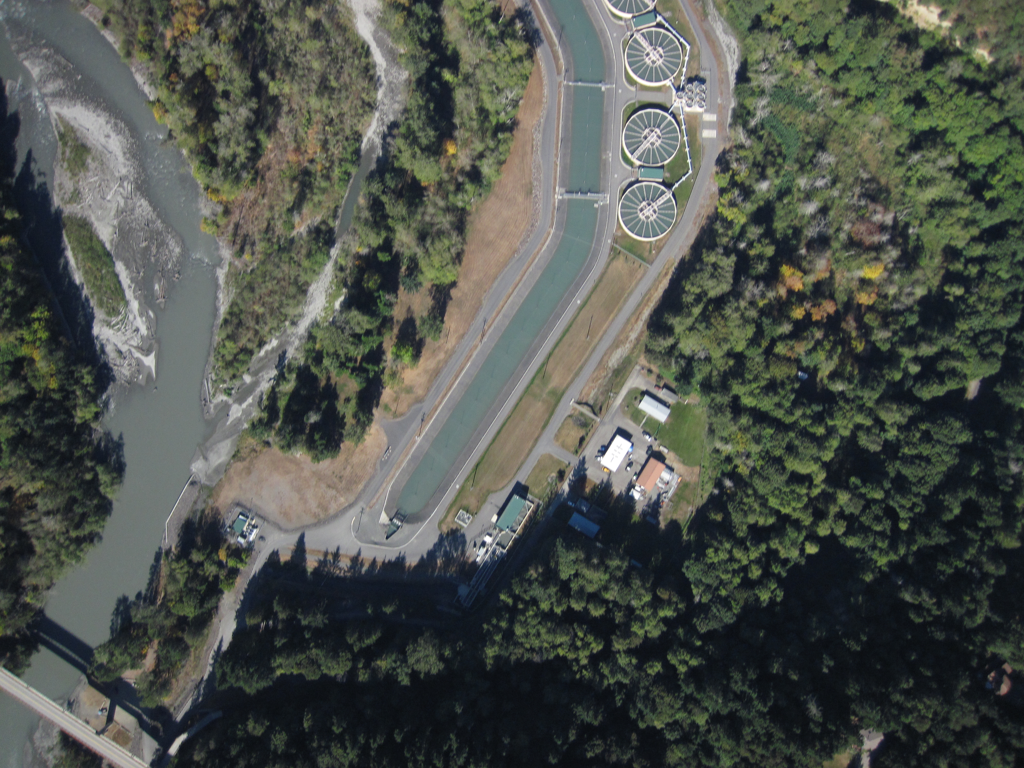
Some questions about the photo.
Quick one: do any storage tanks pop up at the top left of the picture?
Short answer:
No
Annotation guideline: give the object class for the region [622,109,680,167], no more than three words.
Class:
storage tank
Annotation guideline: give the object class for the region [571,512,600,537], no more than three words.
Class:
house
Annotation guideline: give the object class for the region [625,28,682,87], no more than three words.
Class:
storage tank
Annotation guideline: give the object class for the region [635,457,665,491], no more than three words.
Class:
building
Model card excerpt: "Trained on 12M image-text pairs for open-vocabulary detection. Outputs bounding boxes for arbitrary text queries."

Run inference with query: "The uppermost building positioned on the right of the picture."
[631,11,656,32]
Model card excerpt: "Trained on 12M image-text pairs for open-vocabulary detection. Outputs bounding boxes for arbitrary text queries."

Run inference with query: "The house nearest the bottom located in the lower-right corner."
[857,723,881,741]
